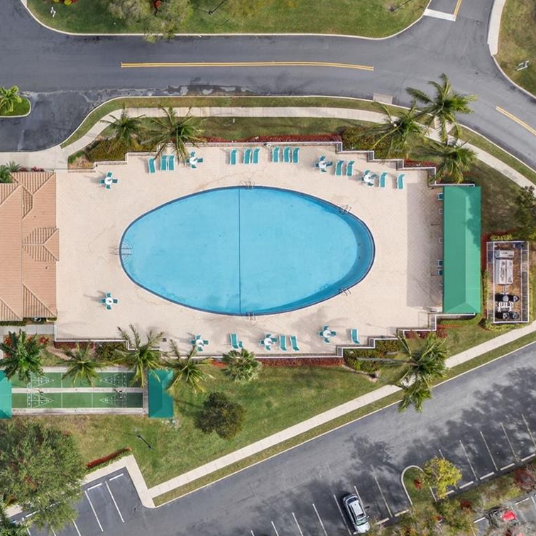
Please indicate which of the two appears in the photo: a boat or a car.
car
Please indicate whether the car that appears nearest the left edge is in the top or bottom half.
bottom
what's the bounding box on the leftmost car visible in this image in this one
[342,492,370,534]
